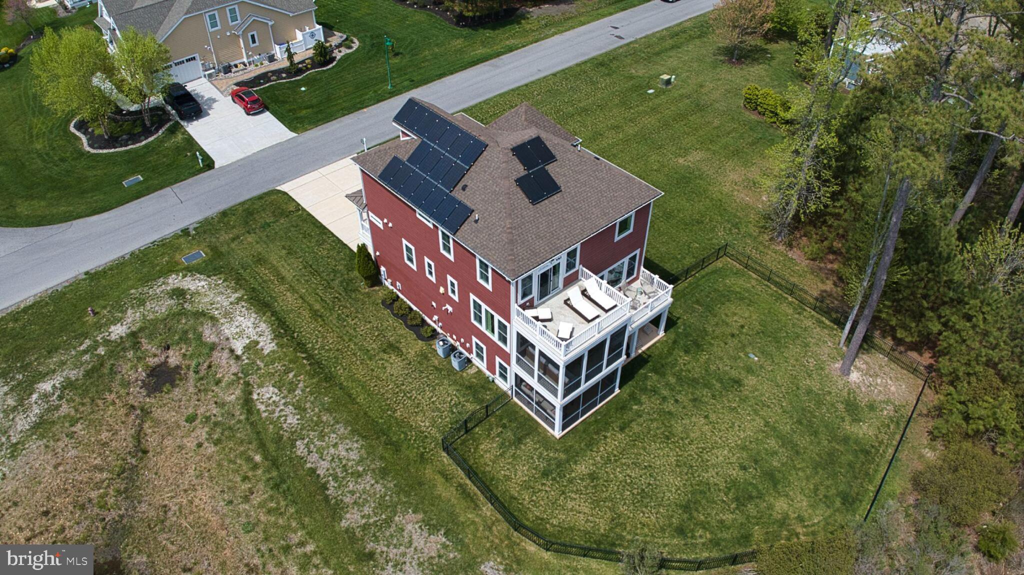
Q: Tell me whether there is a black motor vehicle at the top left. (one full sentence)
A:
Yes, a black motor vehicle is visible at the top left.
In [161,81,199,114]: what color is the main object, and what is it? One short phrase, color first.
black truck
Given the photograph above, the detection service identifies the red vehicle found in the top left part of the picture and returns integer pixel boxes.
[230,83,263,110]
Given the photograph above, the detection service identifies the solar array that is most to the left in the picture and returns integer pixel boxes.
[378,99,487,233]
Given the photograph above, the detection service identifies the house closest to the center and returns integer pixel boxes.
[346,96,673,438]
